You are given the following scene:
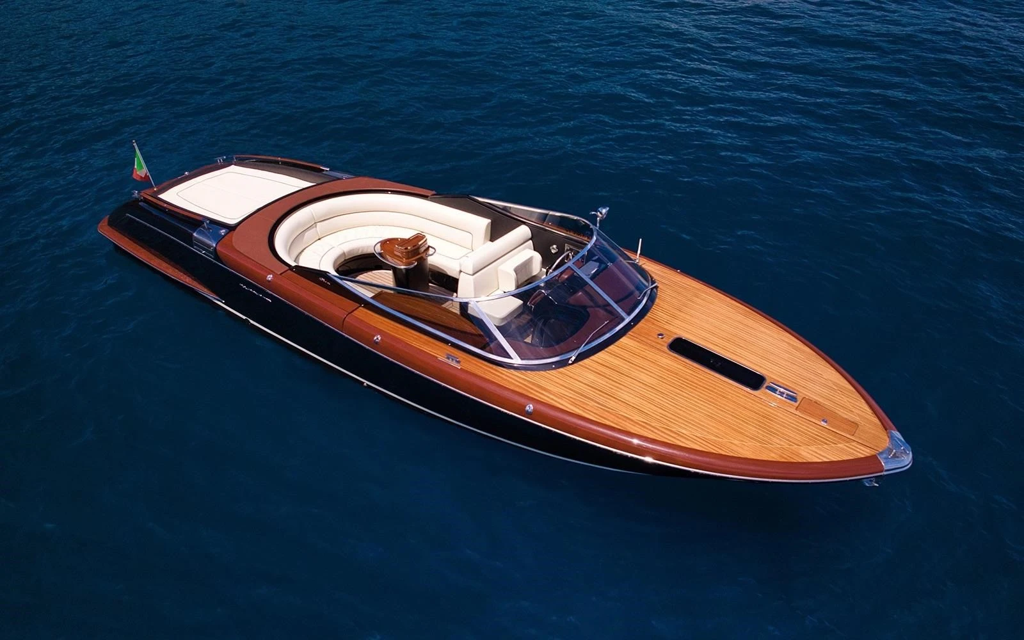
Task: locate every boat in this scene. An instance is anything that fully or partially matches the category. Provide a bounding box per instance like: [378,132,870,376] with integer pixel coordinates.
[98,149,915,494]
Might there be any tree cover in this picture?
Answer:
No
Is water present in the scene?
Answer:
Yes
